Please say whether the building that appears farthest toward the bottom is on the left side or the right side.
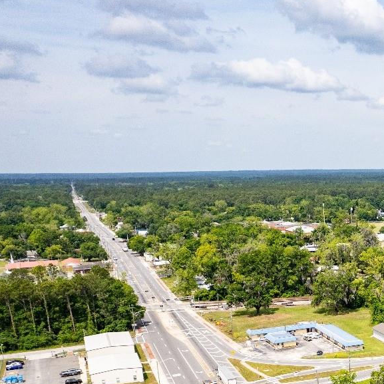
left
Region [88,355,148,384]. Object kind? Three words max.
building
